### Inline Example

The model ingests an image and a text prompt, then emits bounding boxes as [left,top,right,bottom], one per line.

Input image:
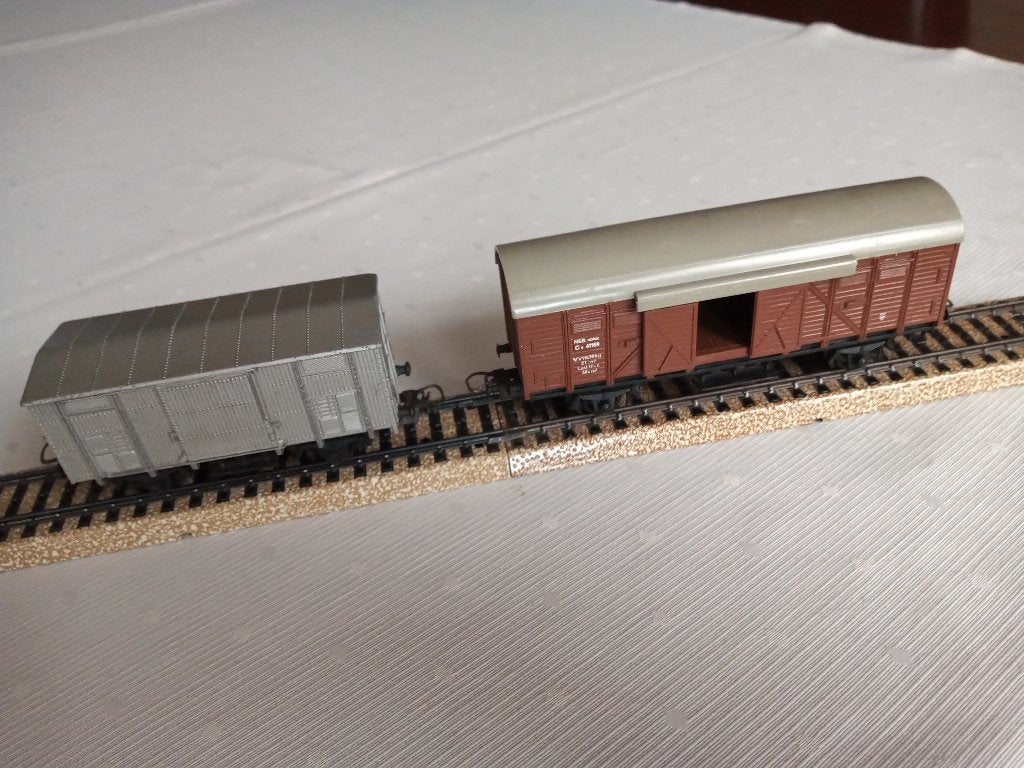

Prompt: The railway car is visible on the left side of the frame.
[16,272,444,495]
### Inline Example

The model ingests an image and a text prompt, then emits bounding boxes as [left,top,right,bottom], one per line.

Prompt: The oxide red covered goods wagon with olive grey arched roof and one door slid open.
[466,176,969,416]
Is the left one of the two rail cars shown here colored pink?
No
